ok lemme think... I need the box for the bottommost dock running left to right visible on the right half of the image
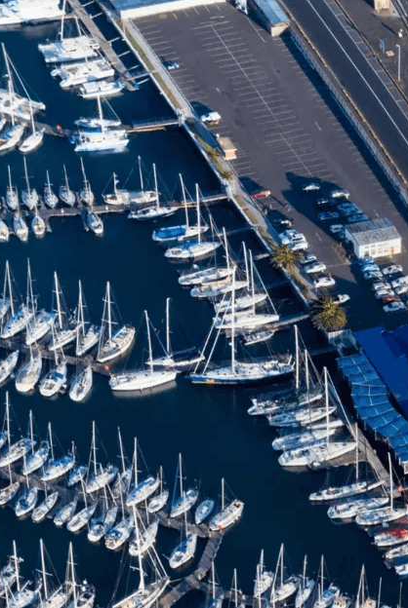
[192,571,313,608]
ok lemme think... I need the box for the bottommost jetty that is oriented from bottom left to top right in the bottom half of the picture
[143,525,228,608]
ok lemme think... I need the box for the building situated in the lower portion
[329,321,408,481]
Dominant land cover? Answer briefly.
water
